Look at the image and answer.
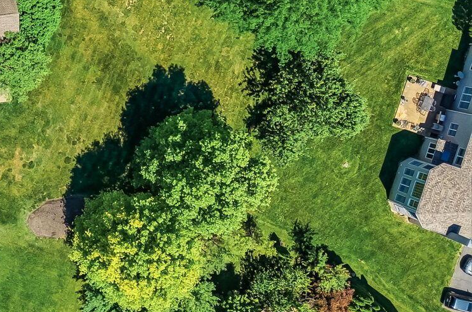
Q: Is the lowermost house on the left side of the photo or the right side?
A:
right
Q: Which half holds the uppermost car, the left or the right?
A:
right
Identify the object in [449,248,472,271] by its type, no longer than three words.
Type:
car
